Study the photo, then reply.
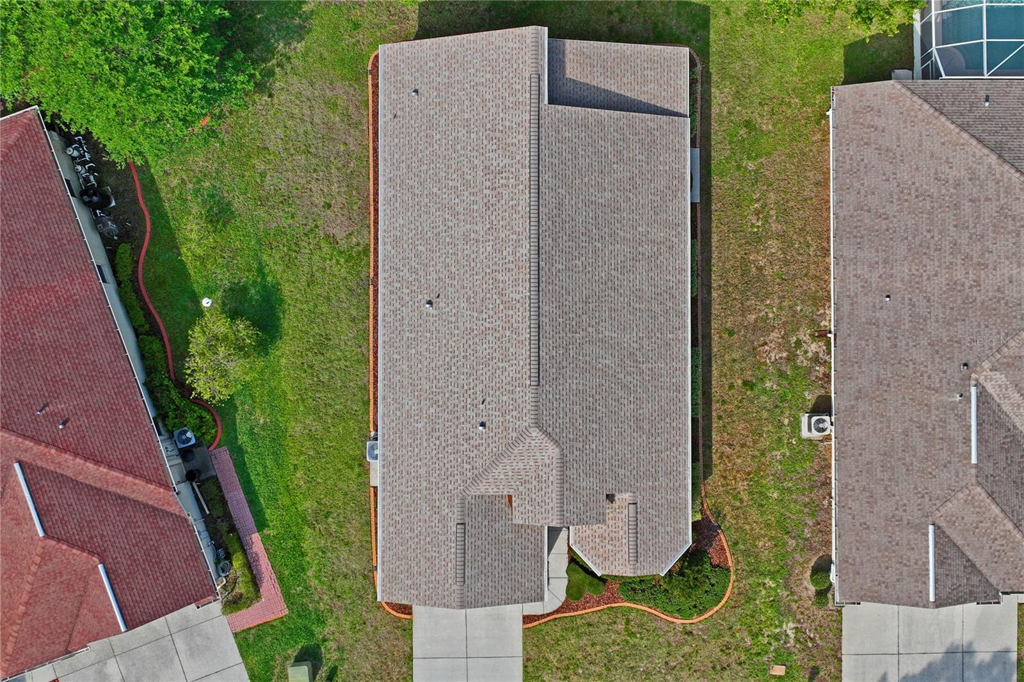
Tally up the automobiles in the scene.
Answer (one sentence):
The count of automobiles is 0.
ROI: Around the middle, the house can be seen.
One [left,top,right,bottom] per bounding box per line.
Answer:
[377,25,693,610]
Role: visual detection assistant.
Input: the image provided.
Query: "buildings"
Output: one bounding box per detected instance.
[818,80,1024,609]
[377,25,693,610]
[0,104,224,682]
